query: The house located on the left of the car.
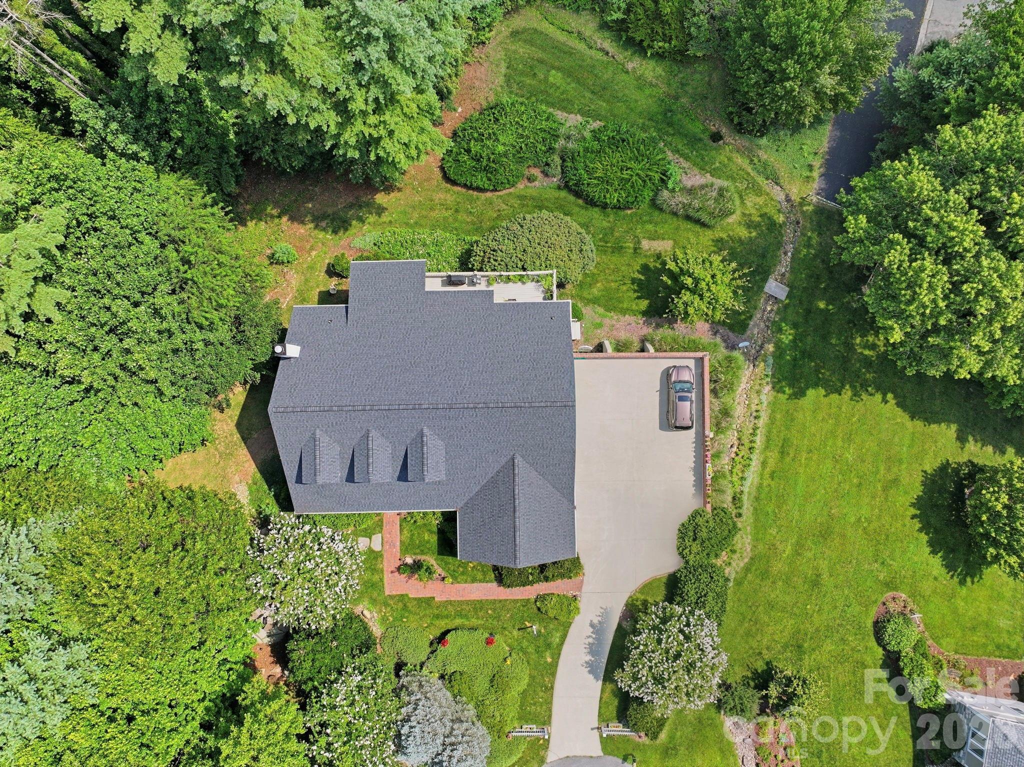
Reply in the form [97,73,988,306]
[269,258,579,568]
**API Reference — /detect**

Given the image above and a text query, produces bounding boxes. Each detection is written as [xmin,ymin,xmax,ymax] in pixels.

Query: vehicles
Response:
[667,366,698,432]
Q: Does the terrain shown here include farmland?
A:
No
